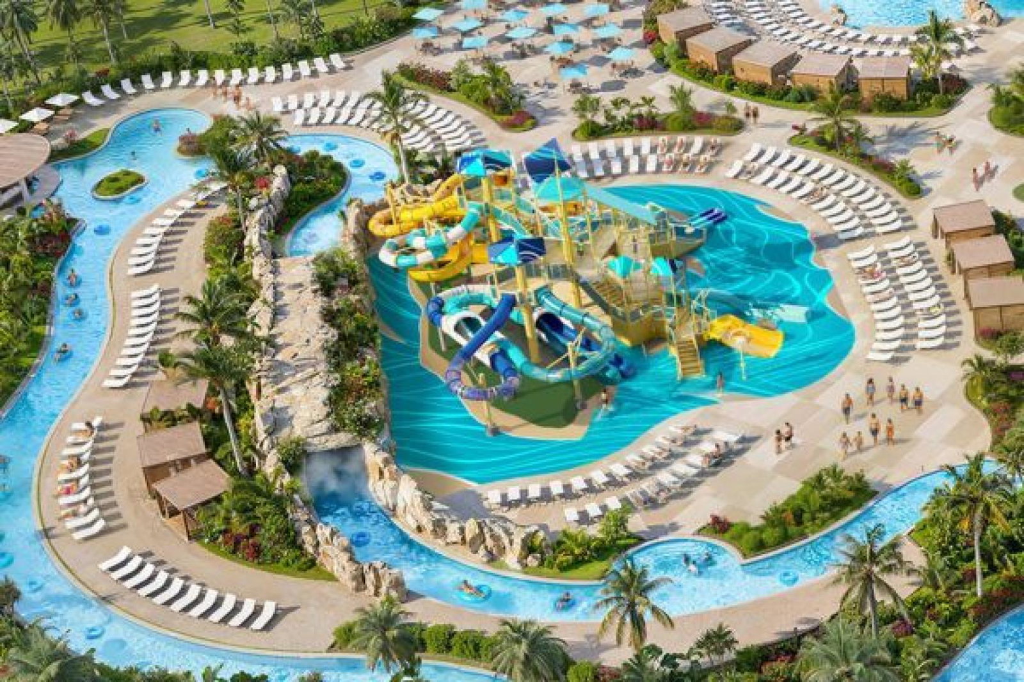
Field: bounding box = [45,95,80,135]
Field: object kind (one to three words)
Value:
umbrella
